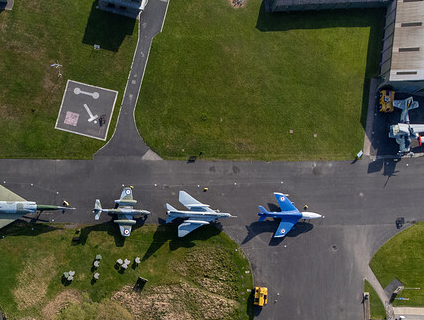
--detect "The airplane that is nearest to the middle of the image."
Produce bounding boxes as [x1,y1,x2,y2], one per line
[165,190,237,236]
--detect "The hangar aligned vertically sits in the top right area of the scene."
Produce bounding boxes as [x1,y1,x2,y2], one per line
[377,0,424,110]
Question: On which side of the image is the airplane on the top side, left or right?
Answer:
right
